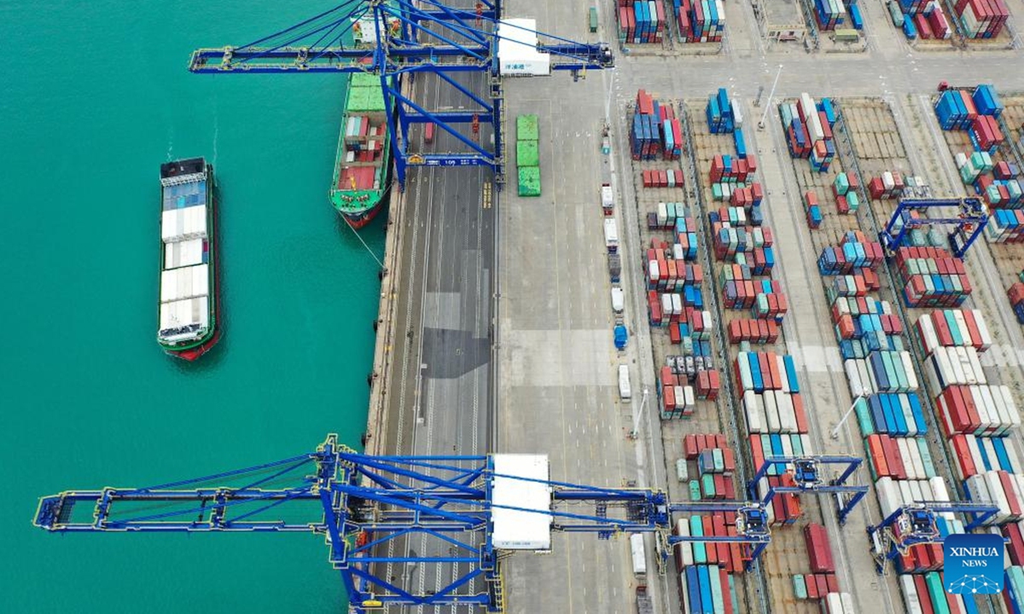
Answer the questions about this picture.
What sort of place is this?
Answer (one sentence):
The area seen from above is a port.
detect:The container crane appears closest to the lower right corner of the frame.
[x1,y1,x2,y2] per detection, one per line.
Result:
[872,501,1015,570]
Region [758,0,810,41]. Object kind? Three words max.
building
